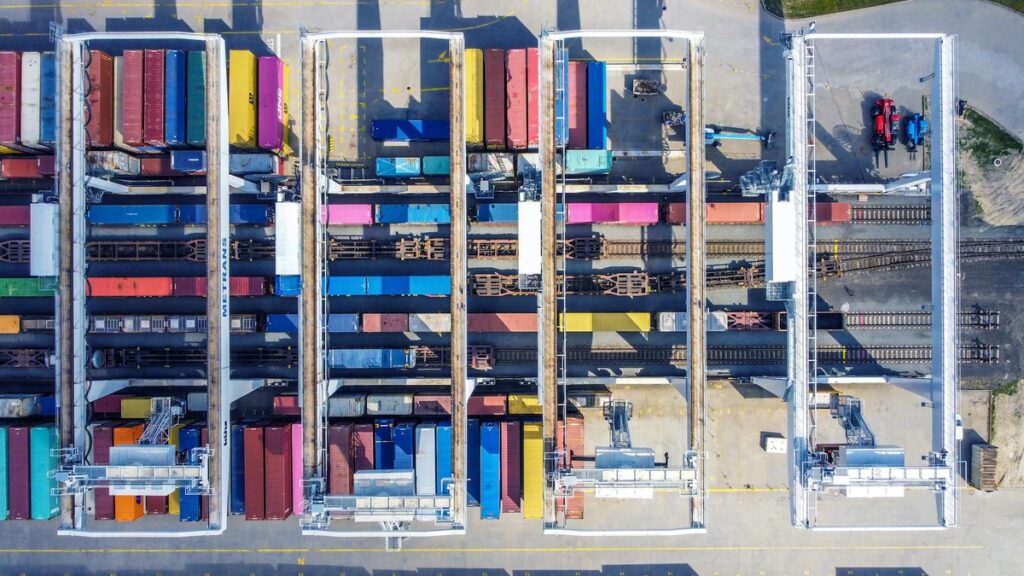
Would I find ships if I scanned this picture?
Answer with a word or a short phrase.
No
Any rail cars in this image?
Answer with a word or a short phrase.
Yes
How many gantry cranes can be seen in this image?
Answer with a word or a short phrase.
4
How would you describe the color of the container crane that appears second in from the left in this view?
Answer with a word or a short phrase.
white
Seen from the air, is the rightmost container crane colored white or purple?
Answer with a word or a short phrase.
white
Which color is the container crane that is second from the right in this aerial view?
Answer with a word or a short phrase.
white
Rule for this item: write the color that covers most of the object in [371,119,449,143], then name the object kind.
blue trailer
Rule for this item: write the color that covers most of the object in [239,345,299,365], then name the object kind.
black rail car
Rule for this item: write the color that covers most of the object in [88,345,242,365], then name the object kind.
black rail car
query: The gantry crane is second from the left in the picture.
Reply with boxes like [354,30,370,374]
[276,25,512,542]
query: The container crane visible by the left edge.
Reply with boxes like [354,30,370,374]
[33,20,294,535]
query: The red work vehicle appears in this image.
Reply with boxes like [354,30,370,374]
[871,99,901,158]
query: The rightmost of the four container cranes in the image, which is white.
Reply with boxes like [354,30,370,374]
[719,20,969,532]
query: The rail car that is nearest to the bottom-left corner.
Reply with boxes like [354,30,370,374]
[0,345,54,365]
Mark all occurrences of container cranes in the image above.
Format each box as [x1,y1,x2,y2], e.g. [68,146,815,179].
[719,20,969,532]
[33,20,294,535]
[276,25,512,542]
[512,26,722,535]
